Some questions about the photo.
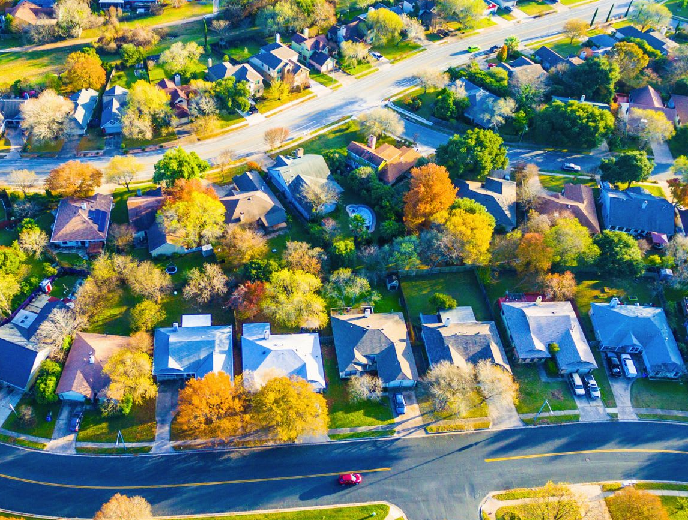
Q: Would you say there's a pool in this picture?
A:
Yes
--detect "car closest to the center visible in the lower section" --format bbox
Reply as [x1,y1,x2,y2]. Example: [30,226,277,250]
[394,394,406,412]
